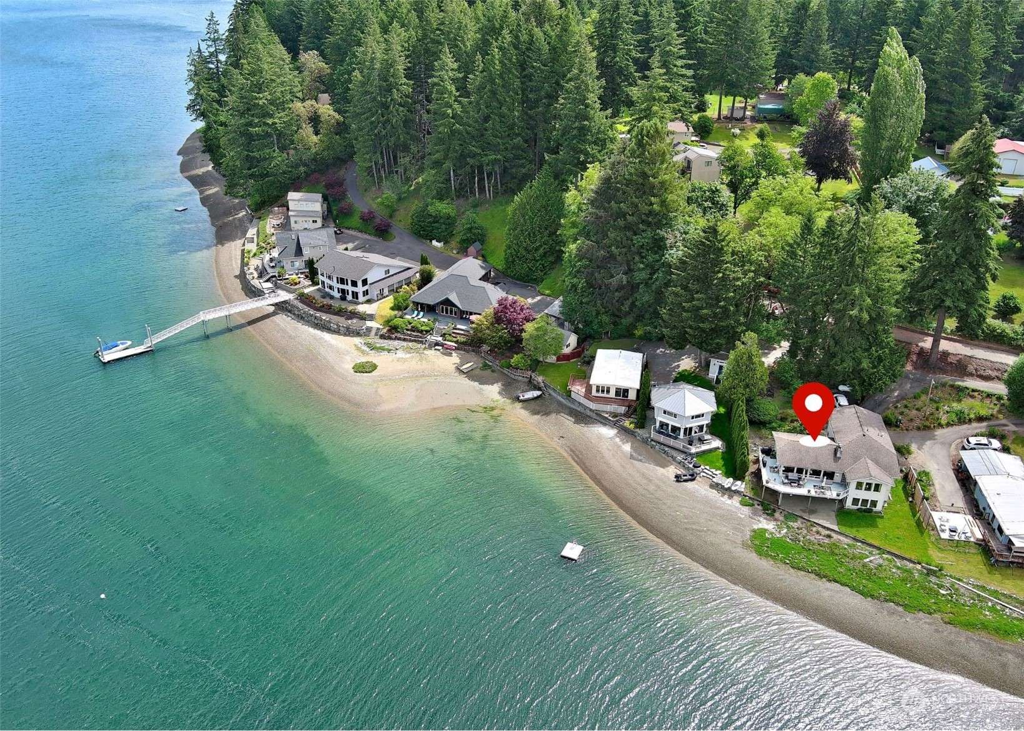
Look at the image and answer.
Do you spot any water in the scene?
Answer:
Yes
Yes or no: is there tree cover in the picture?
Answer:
Yes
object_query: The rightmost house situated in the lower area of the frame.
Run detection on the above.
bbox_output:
[957,453,1024,578]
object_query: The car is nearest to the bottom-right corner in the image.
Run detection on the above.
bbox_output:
[962,432,1007,451]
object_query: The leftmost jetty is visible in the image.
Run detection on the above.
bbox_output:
[89,321,154,365]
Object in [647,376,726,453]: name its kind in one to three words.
house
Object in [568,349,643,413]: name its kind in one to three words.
building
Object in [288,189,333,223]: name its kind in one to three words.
building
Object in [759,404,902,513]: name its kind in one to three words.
house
